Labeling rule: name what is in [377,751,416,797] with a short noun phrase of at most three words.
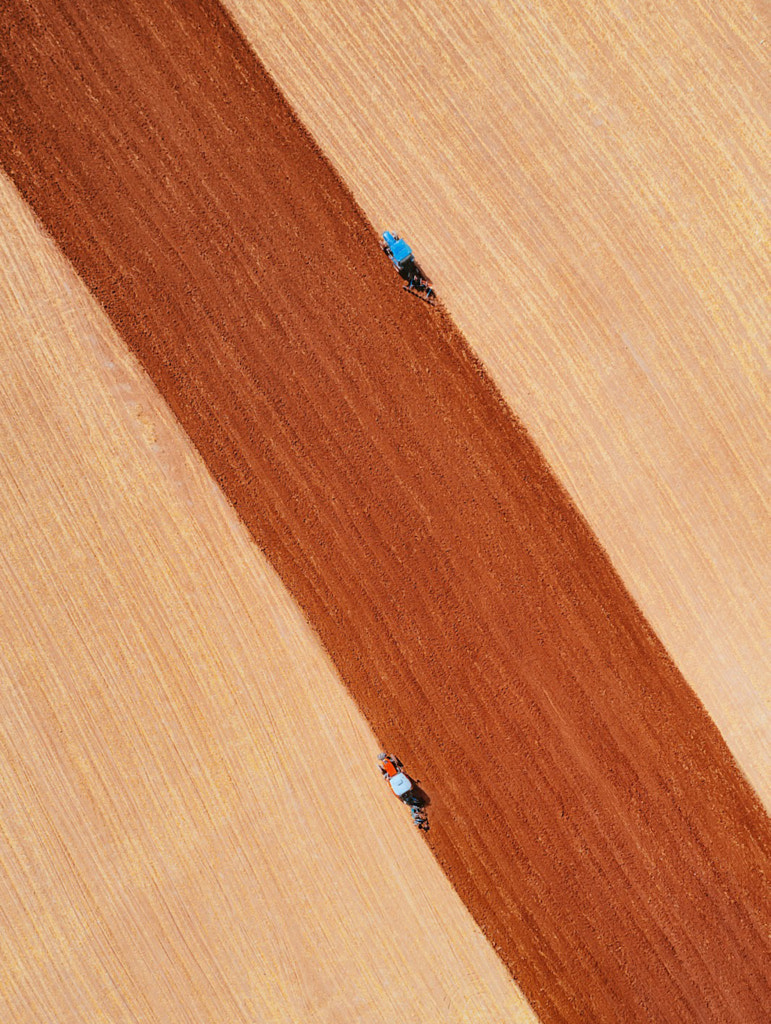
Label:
work vehicle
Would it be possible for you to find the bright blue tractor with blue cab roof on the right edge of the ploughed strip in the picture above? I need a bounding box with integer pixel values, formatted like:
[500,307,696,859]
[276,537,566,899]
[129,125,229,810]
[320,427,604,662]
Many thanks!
[378,231,414,273]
